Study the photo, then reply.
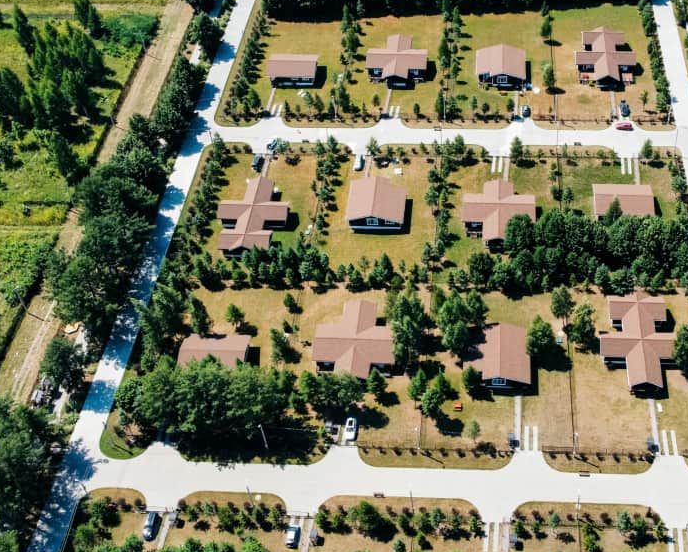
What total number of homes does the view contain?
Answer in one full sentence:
The photo contains 12 homes.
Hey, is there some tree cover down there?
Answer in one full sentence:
Yes, there is tree cover in the image.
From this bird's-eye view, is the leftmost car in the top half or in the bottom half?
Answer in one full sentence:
The bottom half of the photo is where the leftmost car is.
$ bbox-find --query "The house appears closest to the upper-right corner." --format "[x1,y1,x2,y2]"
[577,28,635,91]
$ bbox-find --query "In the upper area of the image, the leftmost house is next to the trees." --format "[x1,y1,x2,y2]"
[215,177,289,259]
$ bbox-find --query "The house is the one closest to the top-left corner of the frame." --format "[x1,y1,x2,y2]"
[265,55,320,89]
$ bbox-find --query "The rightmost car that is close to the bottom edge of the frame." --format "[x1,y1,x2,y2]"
[284,519,302,548]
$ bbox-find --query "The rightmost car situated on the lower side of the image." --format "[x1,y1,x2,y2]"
[343,416,358,441]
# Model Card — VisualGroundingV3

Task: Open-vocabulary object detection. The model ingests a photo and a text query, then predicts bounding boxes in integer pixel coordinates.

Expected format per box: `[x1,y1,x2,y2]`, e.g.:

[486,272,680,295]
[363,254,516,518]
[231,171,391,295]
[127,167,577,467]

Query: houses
[344,176,408,235]
[215,177,289,259]
[366,33,429,89]
[601,293,681,401]
[176,330,253,383]
[462,177,536,249]
[592,184,655,223]
[265,55,320,89]
[462,322,533,396]
[312,299,396,393]
[577,28,635,91]
[475,43,526,90]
